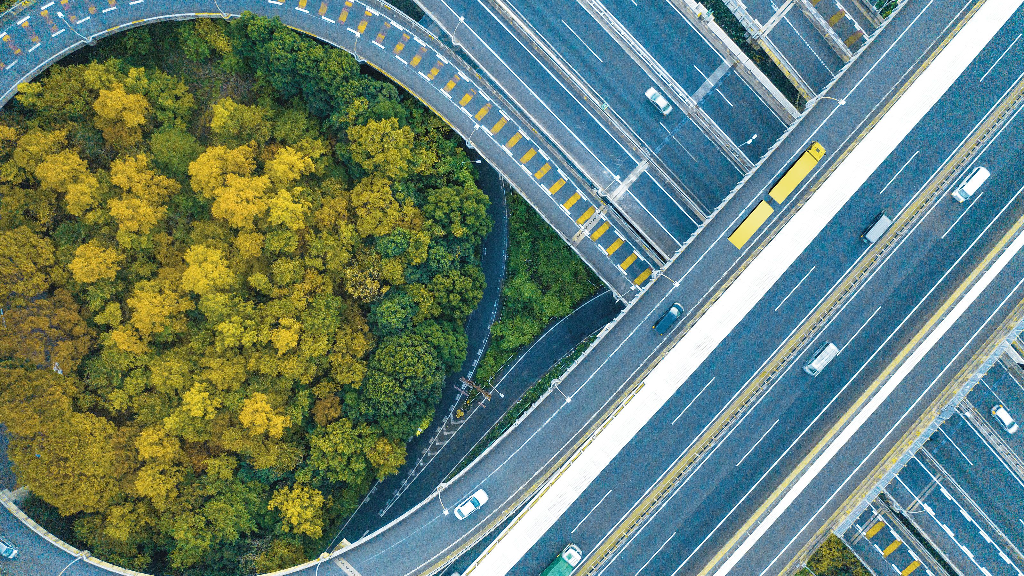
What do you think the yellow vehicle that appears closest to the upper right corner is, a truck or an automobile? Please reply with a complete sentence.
It turns out the yellow vehicle that appears closest to the upper right corner is a truck.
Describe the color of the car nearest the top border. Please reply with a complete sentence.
The car nearest the top border looks white in the image.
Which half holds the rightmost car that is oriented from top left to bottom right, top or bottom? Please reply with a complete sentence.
Seen from above, the rightmost car that is oriented from top left to bottom right lies in the bottom half of the view.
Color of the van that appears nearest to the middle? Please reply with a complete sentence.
The van that appears nearest to the middle looks blue in the image.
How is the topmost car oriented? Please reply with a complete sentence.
From this overhead view, the topmost car appears to run on a diagonal.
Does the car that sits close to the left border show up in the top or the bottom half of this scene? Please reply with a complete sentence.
The car that sits close to the left border sits in the bottom half of the picture.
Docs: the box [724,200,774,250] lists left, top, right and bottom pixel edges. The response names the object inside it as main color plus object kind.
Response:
yellow trailer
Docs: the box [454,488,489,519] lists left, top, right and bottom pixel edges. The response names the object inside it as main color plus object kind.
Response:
white car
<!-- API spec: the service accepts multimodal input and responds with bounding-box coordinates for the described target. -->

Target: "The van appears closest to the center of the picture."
[651,301,684,337]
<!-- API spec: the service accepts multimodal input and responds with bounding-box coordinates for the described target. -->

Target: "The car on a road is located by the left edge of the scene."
[0,527,22,556]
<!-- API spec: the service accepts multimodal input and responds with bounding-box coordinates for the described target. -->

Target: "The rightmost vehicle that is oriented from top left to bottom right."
[986,403,1016,433]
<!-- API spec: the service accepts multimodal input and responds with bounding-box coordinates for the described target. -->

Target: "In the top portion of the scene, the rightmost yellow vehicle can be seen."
[764,139,828,206]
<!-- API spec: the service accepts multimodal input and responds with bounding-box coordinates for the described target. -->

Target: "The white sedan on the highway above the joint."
[643,87,673,118]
